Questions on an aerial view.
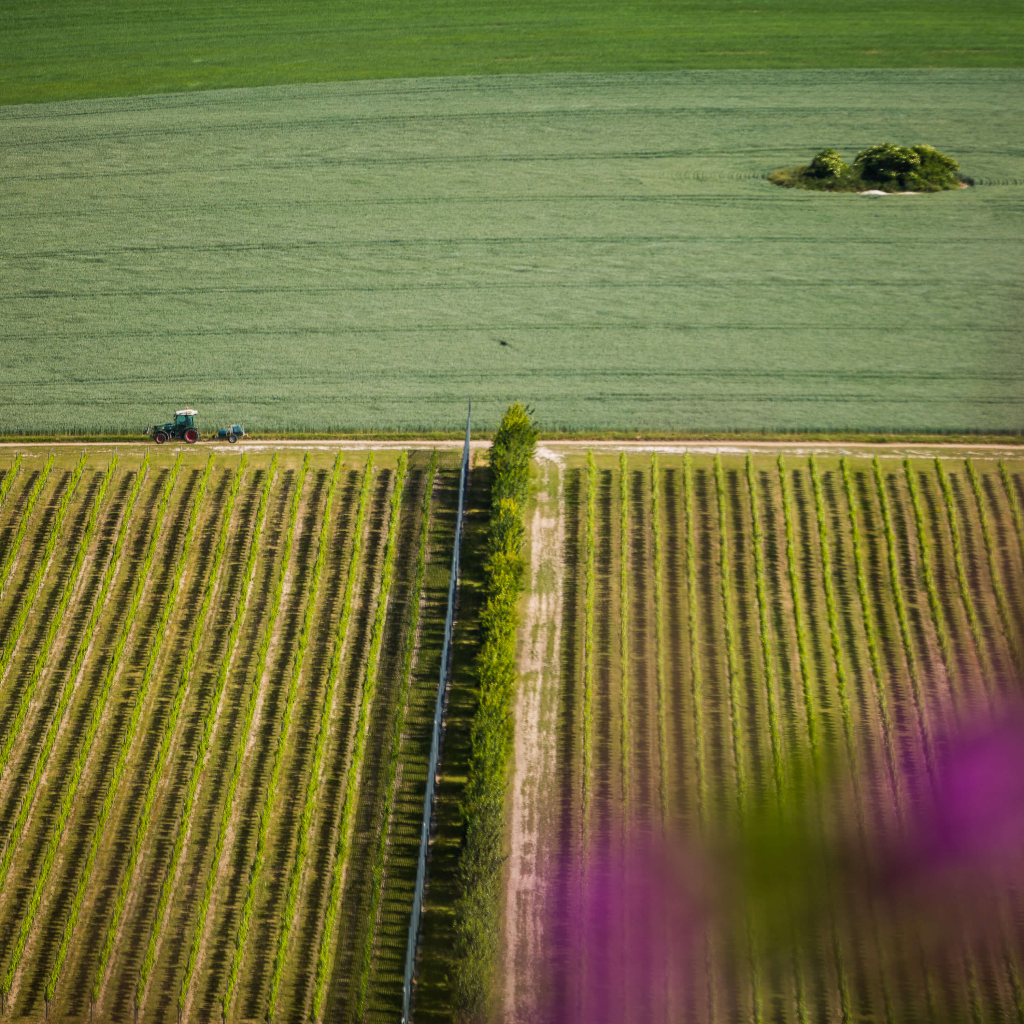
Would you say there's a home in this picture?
No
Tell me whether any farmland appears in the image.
Yes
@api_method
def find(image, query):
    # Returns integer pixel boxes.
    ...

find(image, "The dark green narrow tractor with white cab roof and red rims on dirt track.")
[143,406,203,443]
